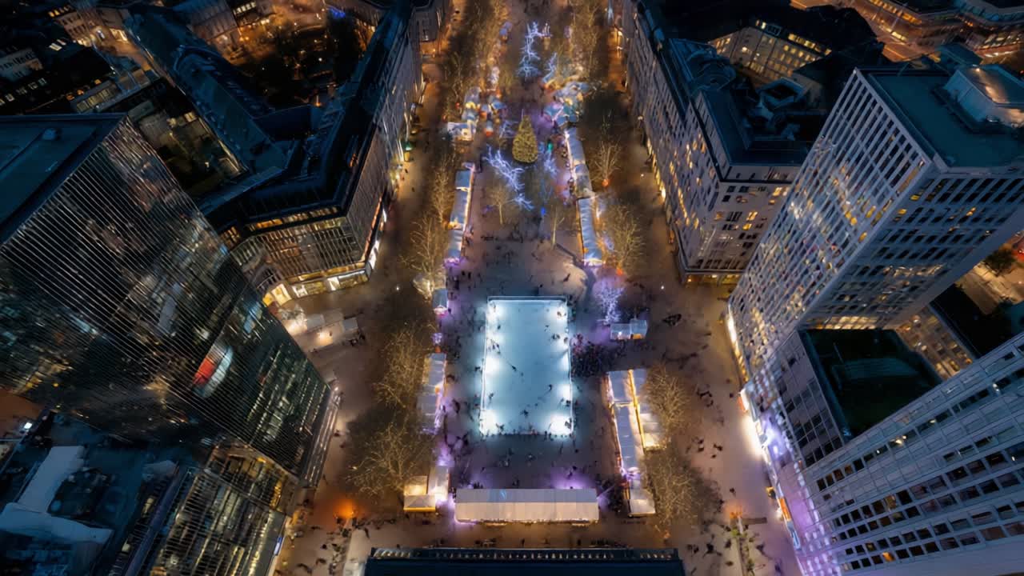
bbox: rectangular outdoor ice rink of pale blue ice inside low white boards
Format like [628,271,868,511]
[474,292,579,440]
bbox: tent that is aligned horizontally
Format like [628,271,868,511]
[454,484,600,527]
